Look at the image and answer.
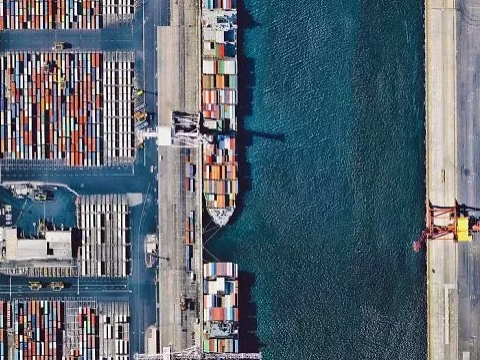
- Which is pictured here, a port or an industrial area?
port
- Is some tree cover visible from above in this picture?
No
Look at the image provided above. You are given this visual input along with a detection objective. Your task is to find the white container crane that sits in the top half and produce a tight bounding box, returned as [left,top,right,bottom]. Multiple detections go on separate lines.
[140,113,208,152]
